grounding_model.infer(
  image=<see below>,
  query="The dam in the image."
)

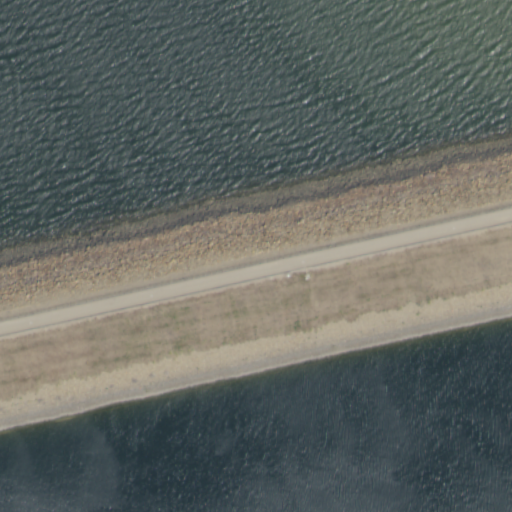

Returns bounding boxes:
[0,126,512,448]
